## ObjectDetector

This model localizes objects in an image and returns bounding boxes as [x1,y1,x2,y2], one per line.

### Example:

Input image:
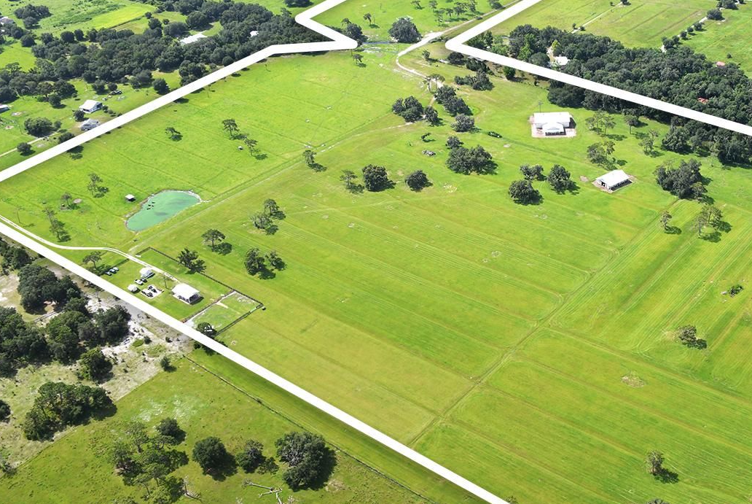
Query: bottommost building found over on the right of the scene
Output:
[597,170,631,192]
